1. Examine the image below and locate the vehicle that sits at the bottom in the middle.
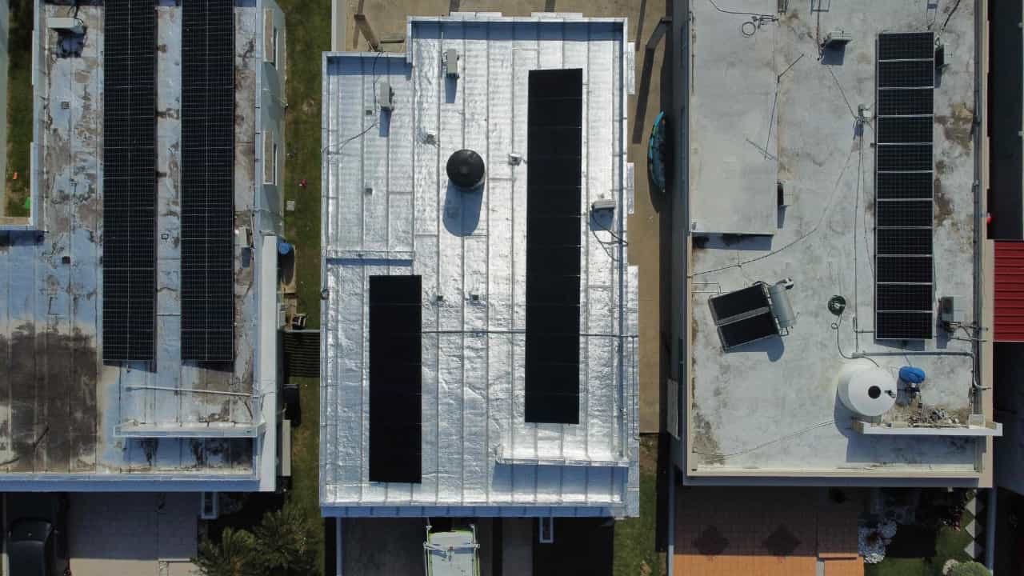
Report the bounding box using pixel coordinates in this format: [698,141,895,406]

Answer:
[424,516,485,576]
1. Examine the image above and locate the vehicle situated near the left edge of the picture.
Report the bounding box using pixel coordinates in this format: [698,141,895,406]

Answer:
[5,498,72,576]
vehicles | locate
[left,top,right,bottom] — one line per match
[424,516,485,576]
[5,498,72,576]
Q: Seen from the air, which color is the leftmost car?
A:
black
